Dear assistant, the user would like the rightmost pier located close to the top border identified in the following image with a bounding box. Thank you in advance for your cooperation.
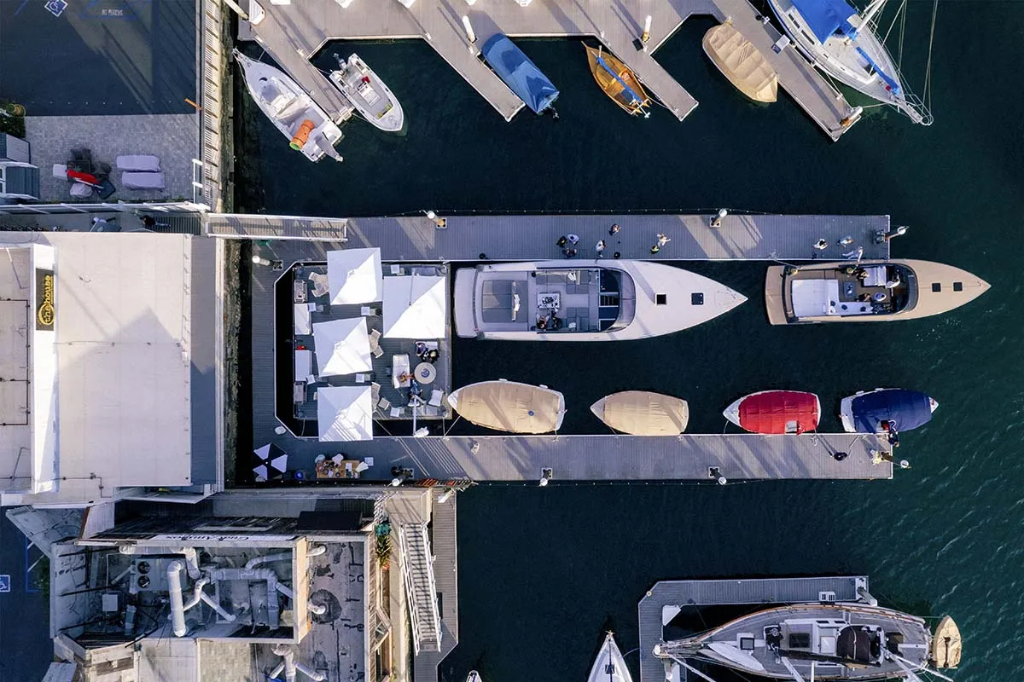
[238,0,863,141]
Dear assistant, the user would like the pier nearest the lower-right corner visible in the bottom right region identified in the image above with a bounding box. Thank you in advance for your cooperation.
[638,575,869,682]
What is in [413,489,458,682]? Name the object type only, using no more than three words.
pier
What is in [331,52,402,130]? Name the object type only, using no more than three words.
boat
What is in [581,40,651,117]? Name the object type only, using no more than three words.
boat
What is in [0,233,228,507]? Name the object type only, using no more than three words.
building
